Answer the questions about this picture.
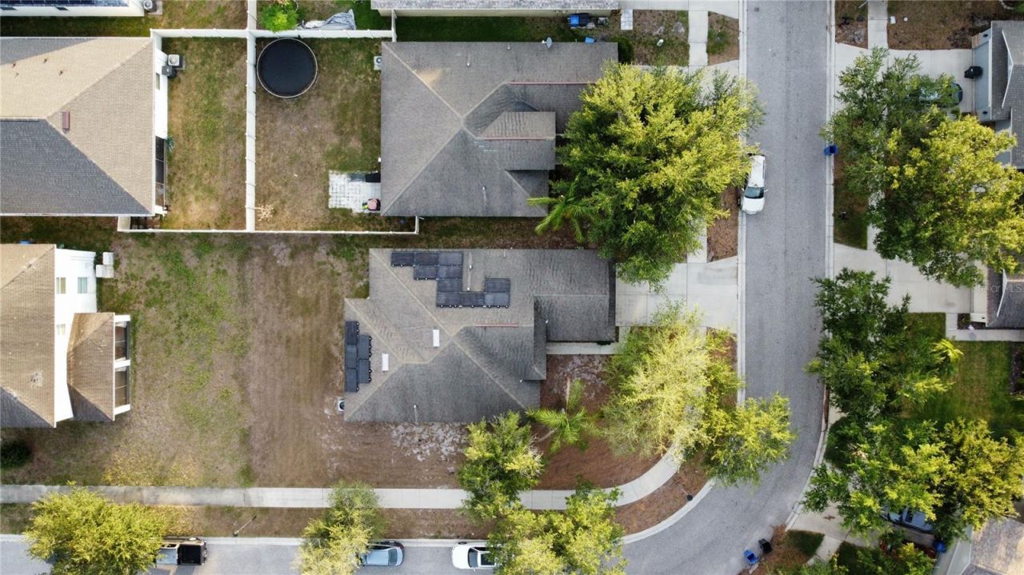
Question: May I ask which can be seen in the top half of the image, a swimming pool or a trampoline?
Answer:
trampoline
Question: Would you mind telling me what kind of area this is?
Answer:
residential area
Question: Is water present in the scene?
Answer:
No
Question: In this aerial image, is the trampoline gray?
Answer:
No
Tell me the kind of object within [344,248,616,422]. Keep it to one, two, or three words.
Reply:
house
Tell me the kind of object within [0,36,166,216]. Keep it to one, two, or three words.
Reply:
house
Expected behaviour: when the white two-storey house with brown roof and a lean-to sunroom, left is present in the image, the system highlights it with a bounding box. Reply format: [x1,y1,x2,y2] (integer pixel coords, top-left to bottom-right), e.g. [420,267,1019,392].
[0,243,130,427]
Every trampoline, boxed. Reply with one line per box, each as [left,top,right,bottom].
[258,39,319,100]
